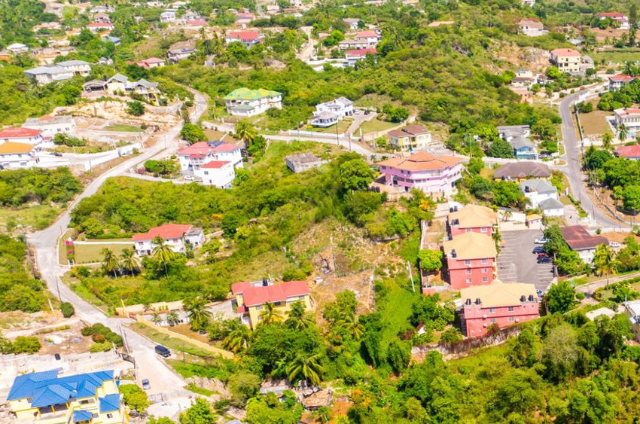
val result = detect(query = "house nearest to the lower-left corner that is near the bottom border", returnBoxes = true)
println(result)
[7,367,132,424]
